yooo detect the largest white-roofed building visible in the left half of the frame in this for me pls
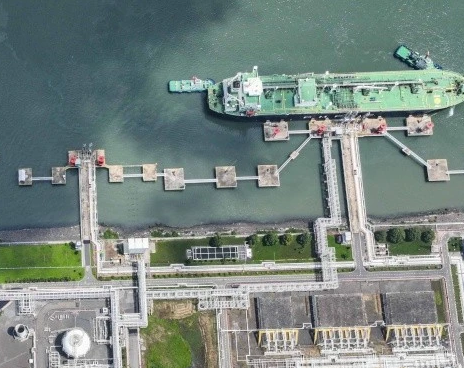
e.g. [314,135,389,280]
[127,238,148,256]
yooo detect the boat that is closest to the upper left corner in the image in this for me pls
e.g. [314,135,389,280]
[167,77,211,94]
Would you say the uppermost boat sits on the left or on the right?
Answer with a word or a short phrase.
right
